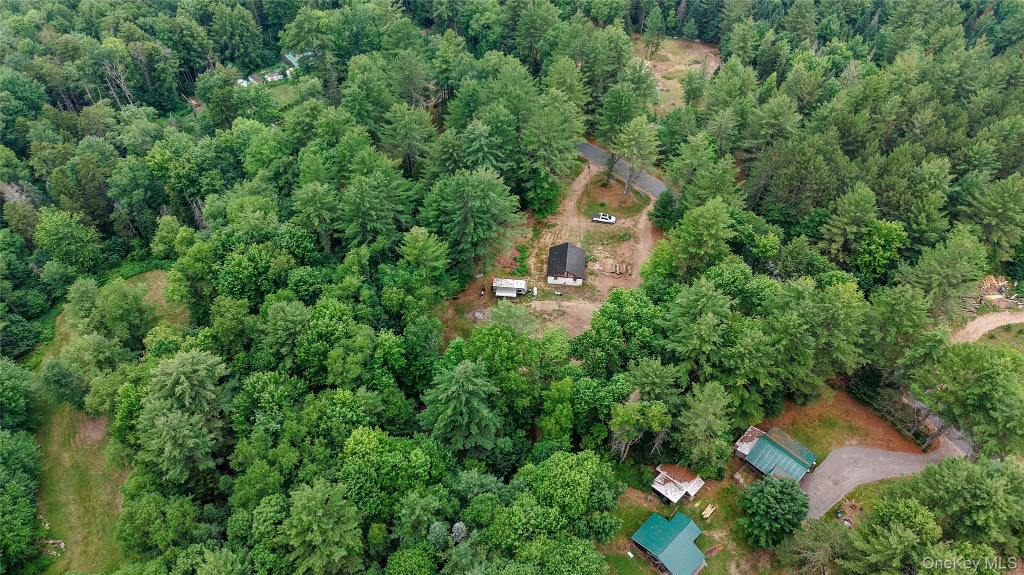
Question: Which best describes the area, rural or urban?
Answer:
rural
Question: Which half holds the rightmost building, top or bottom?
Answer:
bottom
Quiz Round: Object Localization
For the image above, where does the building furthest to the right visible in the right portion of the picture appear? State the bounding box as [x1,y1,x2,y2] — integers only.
[734,426,820,491]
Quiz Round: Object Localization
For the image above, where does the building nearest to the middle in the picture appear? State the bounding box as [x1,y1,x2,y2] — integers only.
[546,240,586,286]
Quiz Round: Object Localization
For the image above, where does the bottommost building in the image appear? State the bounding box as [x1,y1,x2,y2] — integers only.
[630,511,707,575]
